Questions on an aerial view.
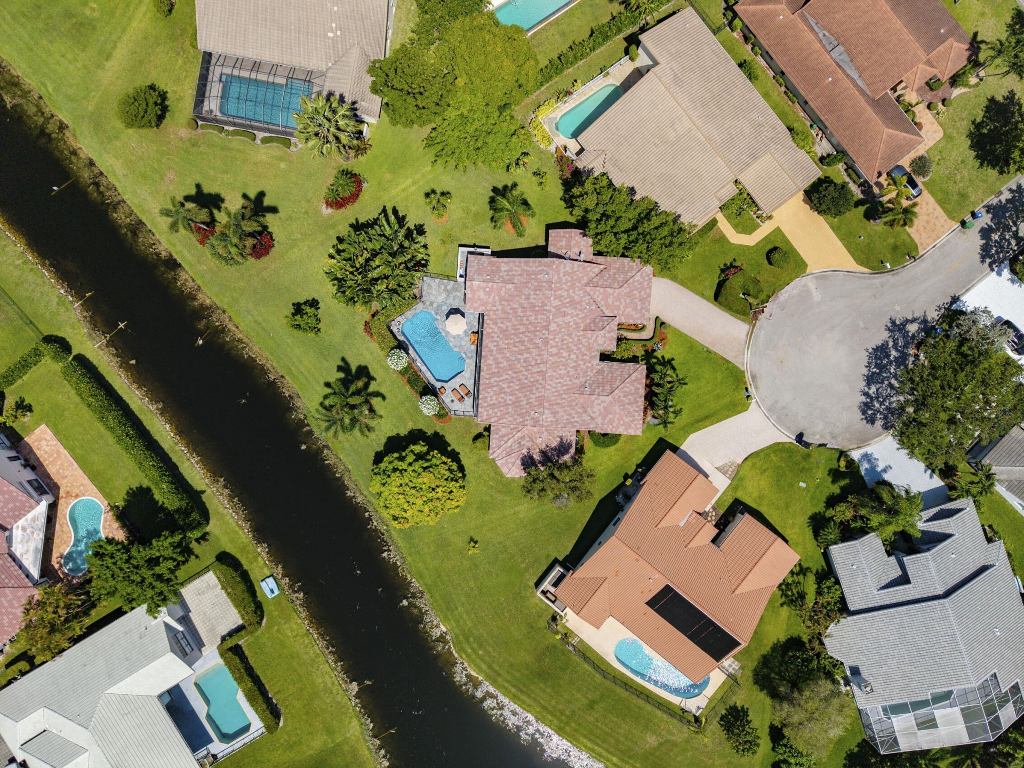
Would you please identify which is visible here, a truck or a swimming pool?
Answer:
swimming pool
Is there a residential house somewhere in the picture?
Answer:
Yes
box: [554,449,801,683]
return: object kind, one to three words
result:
house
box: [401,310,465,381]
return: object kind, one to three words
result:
swimming pool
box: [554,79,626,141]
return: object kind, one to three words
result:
swimming pool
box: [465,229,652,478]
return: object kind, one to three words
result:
house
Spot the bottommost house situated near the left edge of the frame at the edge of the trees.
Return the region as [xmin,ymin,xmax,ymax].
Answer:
[0,600,202,768]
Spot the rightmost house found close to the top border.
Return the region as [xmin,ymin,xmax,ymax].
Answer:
[732,0,977,185]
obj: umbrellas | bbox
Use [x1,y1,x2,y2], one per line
[446,314,467,335]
